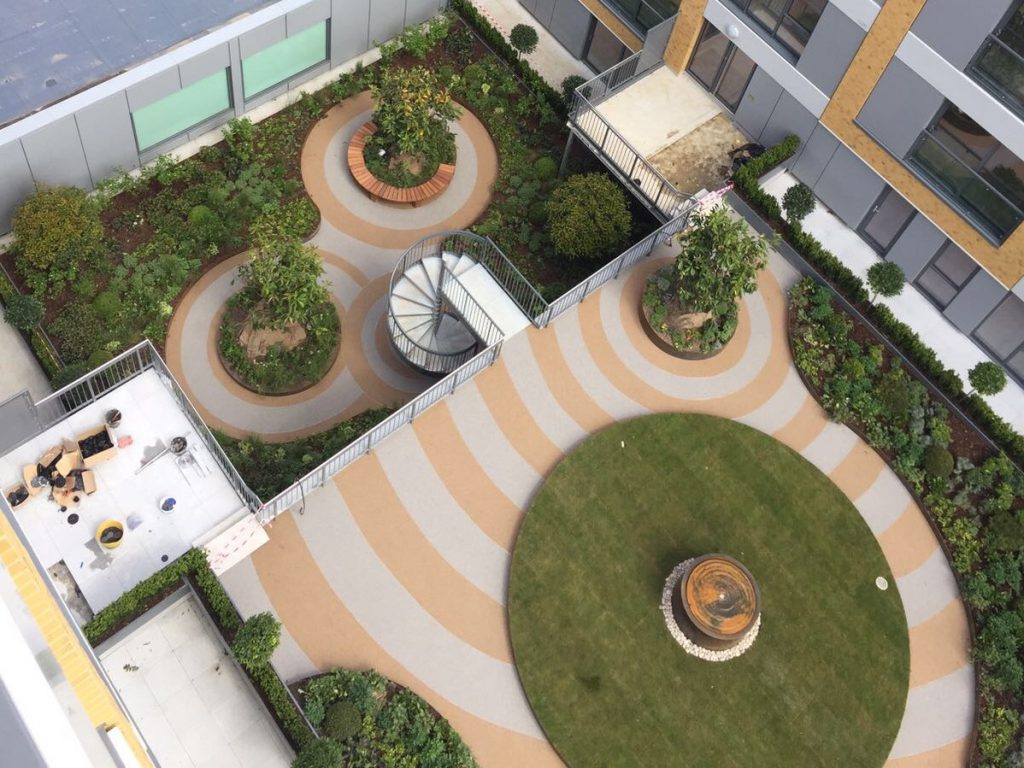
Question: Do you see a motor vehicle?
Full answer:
No, there appears to be no motor vehicle in this shot.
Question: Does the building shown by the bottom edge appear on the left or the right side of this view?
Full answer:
The building shown by the bottom edge is on the left side of the image.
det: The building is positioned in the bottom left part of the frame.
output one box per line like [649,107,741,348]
[0,492,163,768]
